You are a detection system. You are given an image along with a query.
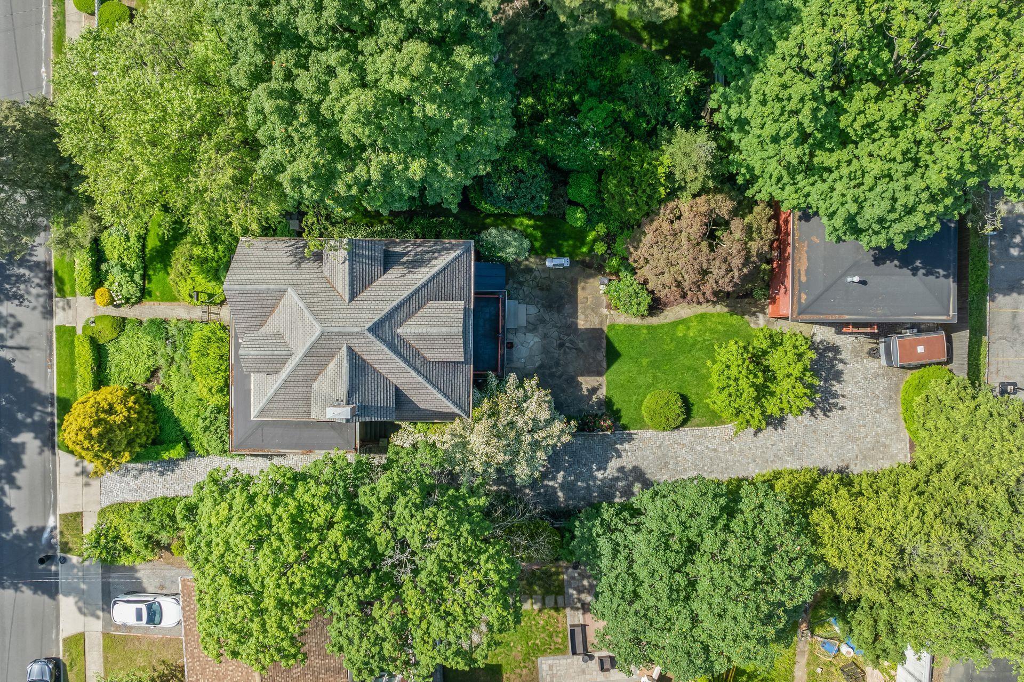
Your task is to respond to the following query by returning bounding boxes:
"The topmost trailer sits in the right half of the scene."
[866,332,954,365]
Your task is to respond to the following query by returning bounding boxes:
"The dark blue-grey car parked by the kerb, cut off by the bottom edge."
[27,656,67,682]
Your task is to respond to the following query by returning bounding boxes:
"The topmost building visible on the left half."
[221,237,527,455]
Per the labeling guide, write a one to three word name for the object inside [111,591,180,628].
car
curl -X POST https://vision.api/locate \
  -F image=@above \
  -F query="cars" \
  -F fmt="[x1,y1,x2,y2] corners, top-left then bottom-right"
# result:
[111,591,180,628]
[27,656,67,682]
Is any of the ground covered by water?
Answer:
No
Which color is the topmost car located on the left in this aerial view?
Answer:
white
